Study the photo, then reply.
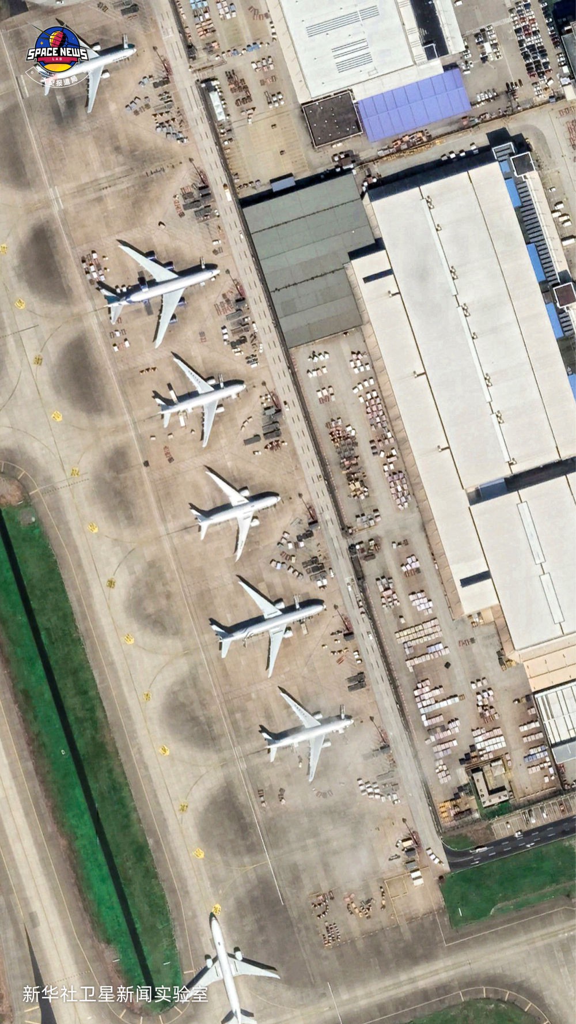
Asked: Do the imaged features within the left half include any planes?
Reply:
Yes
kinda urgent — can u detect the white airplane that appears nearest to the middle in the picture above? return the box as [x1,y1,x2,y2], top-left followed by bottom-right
[195,471,280,561]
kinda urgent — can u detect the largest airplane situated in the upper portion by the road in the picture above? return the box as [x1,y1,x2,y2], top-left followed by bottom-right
[98,245,220,348]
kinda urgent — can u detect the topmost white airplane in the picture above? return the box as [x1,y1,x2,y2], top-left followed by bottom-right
[44,26,136,113]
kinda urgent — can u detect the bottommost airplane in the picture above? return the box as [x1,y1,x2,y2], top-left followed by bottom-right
[184,917,281,1024]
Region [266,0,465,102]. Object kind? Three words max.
building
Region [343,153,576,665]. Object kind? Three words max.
warehouse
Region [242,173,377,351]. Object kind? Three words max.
building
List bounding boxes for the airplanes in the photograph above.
[261,694,354,782]
[184,917,281,1024]
[215,581,325,677]
[156,359,246,447]
[195,471,280,561]
[98,245,220,348]
[44,26,136,113]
